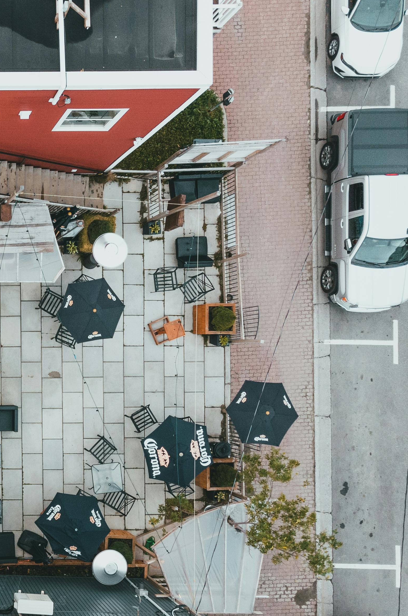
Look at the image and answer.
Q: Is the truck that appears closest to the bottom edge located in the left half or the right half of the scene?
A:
right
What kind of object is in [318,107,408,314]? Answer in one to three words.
truck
